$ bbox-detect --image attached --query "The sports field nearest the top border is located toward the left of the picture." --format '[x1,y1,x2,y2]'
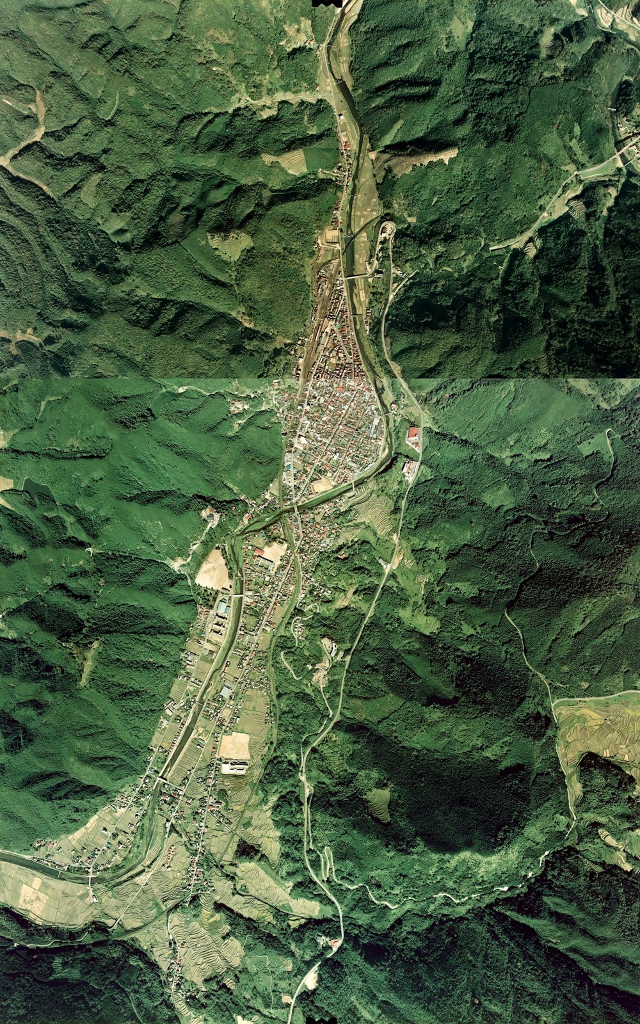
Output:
[196,549,232,588]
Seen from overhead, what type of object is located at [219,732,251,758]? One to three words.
sports field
